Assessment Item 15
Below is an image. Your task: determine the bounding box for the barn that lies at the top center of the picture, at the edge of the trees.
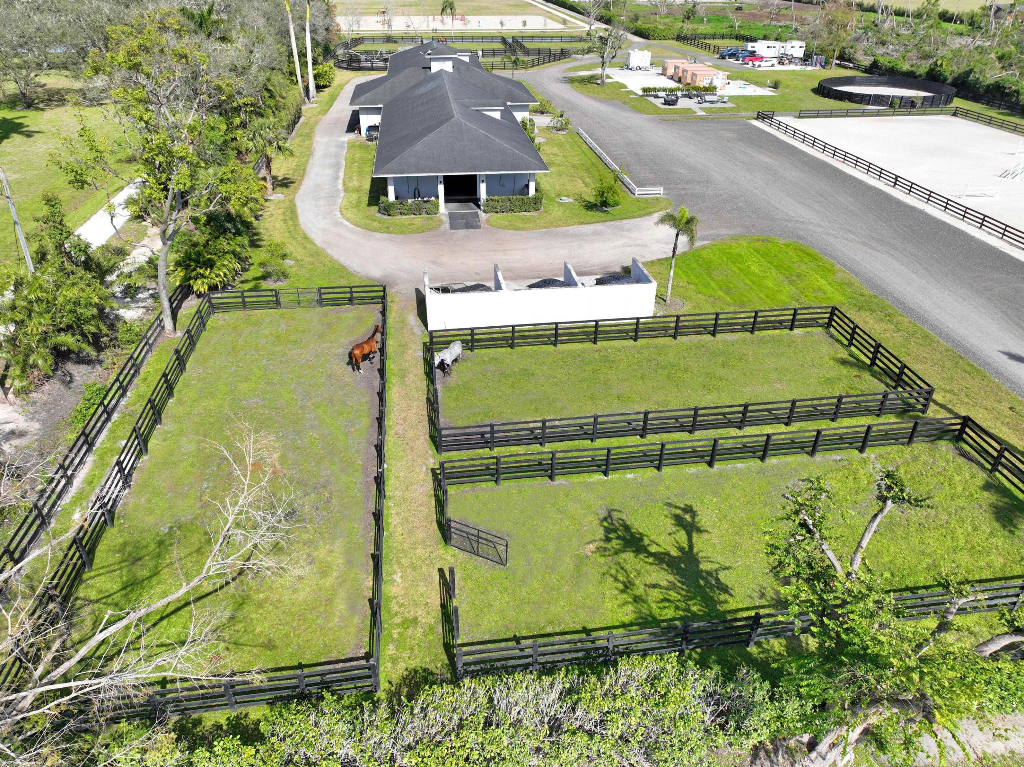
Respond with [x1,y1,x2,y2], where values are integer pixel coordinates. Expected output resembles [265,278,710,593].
[348,39,550,212]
